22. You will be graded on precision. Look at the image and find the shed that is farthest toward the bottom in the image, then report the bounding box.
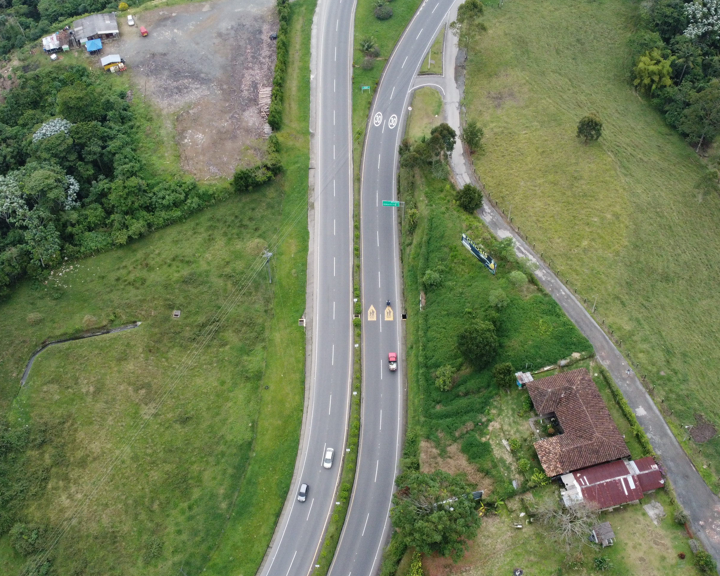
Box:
[590,517,619,550]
